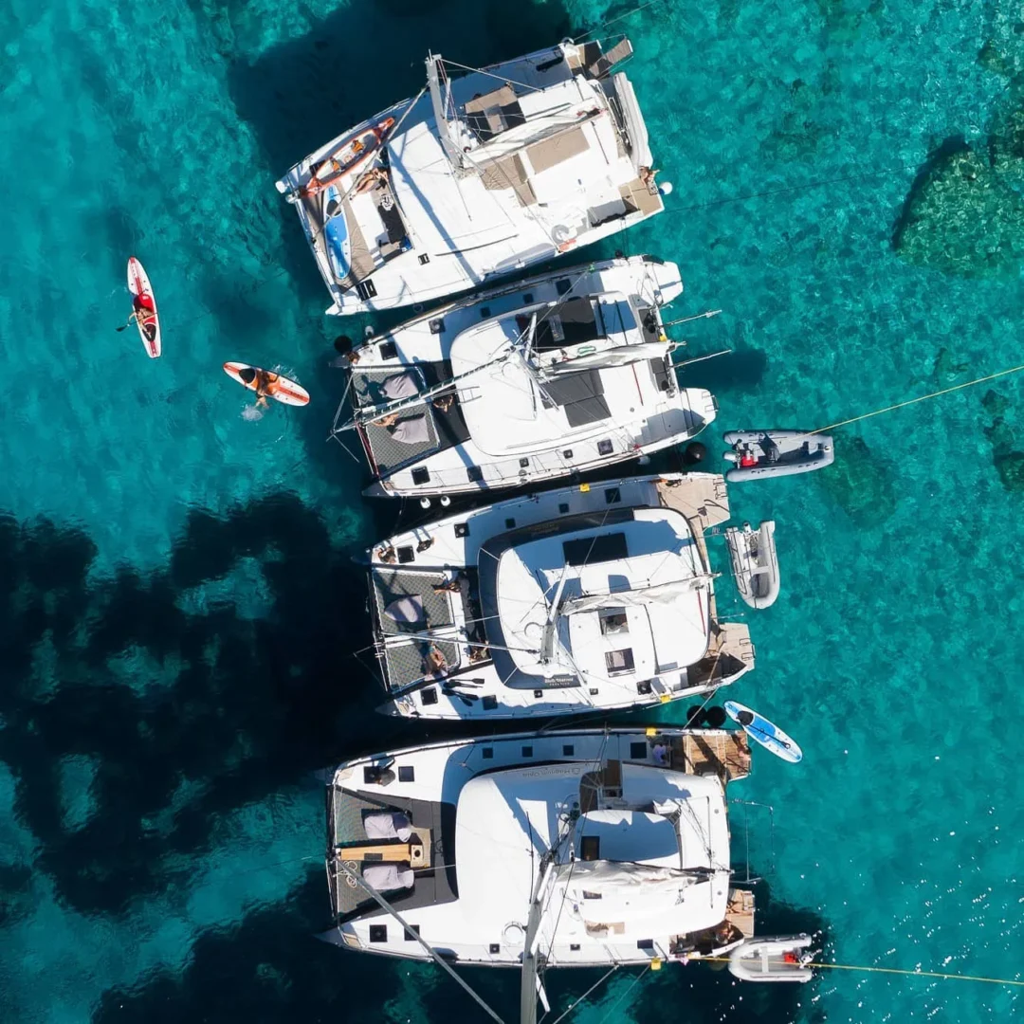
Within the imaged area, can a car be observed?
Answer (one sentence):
No, there is no car in the image.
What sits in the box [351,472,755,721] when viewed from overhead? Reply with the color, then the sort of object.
white boat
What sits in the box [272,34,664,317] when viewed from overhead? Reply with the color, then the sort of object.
white boat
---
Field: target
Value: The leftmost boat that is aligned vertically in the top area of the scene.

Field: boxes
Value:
[612,69,655,183]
